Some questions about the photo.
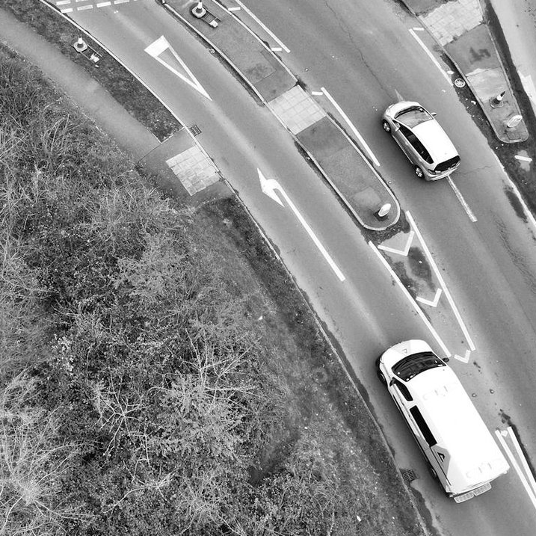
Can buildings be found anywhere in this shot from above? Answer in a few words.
No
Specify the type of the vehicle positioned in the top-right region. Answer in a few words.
car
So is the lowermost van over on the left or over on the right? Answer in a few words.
right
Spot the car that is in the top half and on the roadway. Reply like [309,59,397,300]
[383,99,468,188]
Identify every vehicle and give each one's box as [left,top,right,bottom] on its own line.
[377,346,509,511]
[383,99,468,188]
